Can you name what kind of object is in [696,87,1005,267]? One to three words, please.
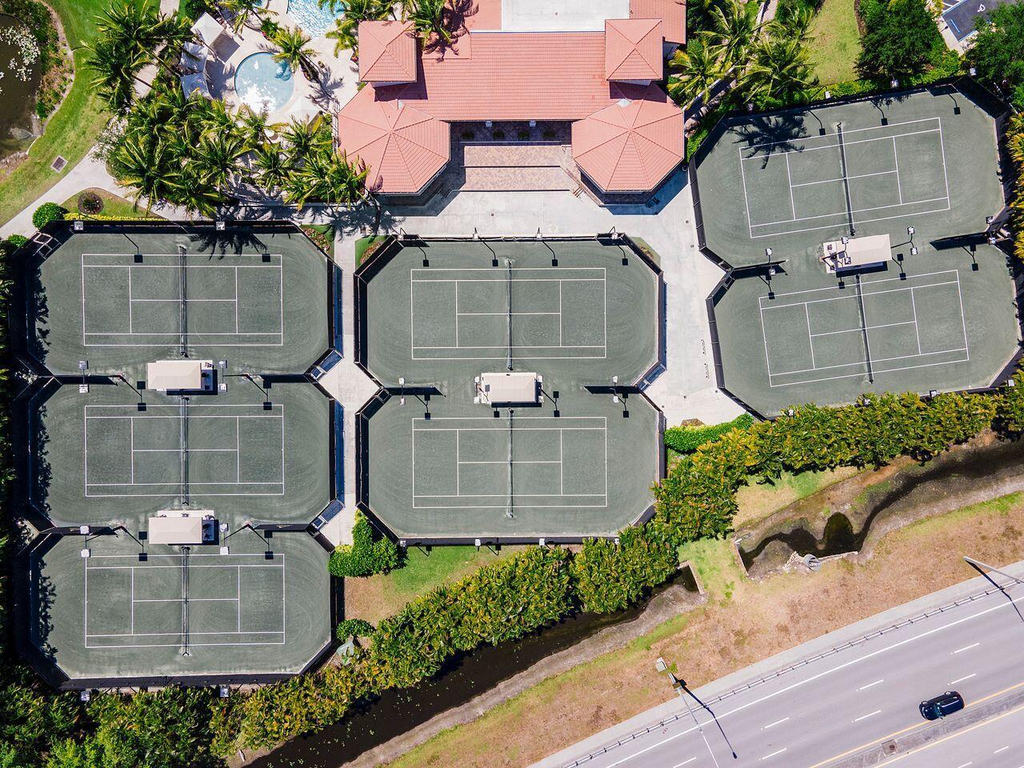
tennis court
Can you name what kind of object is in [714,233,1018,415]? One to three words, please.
tennis court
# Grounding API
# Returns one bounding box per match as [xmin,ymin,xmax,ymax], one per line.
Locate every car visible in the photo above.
[924,693,967,721]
